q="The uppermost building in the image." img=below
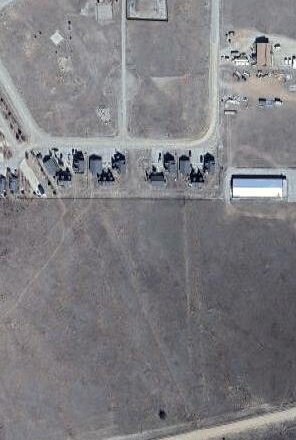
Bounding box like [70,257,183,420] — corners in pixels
[257,42,274,66]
